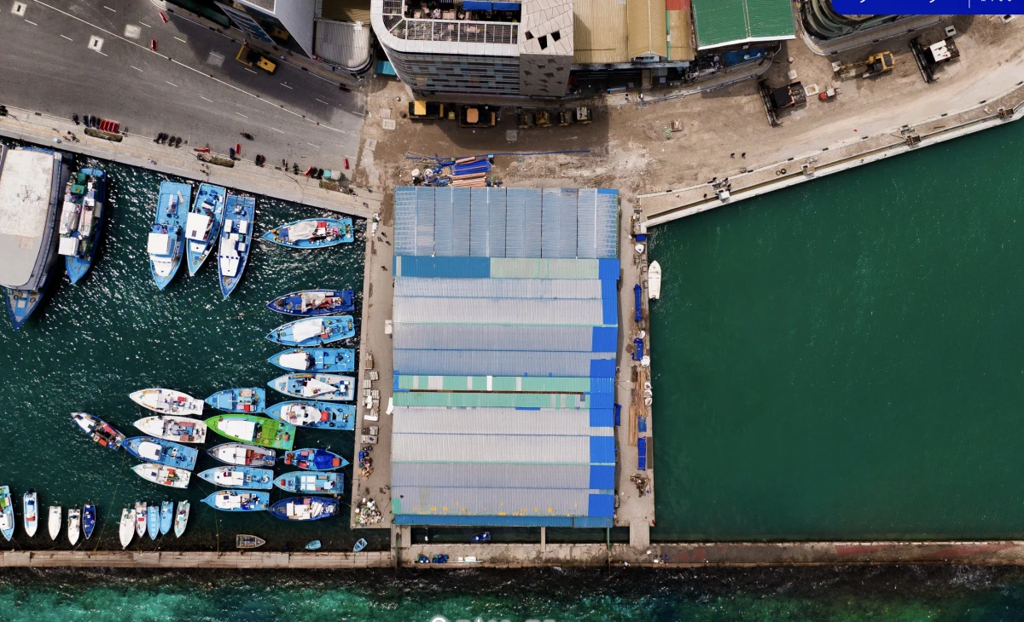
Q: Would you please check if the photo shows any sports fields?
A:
No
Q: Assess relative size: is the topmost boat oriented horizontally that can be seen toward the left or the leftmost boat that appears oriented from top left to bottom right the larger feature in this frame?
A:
the topmost boat oriented horizontally that can be seen toward the left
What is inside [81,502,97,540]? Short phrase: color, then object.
blue boat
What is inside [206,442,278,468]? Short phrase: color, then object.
white boat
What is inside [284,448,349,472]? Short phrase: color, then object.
blue boat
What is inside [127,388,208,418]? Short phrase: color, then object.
white boat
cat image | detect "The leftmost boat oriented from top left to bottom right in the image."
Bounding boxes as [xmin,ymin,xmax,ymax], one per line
[70,413,127,451]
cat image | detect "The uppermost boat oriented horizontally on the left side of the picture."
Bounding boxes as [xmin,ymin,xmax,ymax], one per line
[260,216,356,250]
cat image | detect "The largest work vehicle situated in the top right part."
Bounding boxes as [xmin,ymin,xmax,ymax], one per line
[839,49,902,77]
